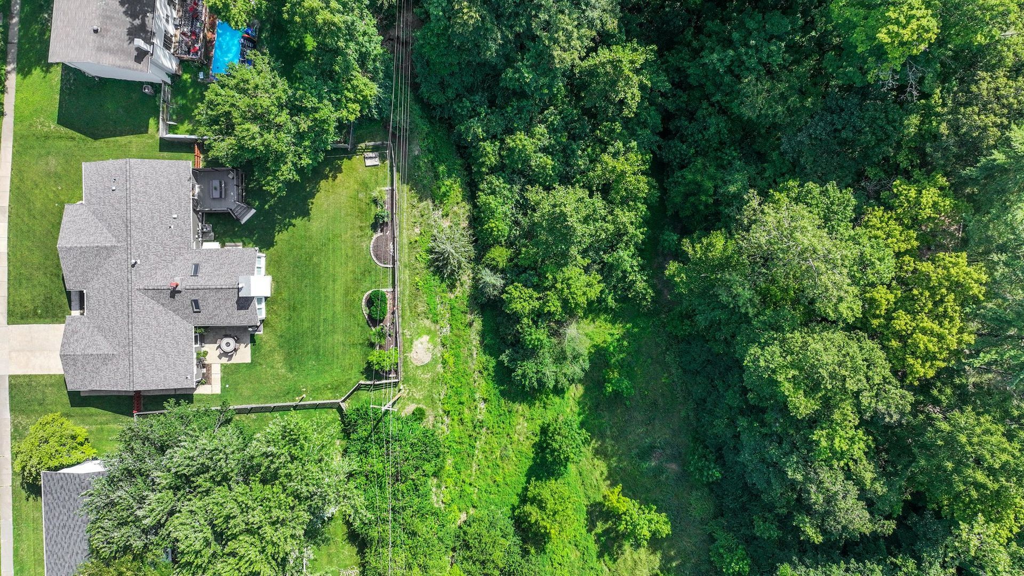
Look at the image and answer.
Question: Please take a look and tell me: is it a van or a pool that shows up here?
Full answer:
It is a pool that can be seen here.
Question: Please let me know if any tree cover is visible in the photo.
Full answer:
Yes, the picture does contain tree cover.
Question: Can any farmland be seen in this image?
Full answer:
No, there's no farmland in this view.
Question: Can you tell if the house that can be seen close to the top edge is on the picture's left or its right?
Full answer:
The house that can be seen close to the top edge is on the left side of the image.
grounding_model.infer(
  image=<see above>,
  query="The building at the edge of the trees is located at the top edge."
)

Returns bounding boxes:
[48,0,192,86]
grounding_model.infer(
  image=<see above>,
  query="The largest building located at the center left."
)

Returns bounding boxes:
[54,158,273,391]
